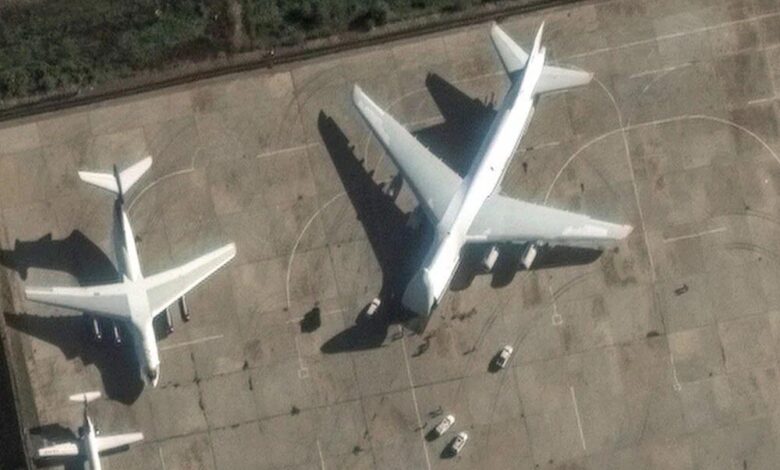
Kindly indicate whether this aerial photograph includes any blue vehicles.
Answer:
No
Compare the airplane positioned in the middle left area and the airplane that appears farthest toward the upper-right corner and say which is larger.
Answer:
the airplane that appears farthest toward the upper-right corner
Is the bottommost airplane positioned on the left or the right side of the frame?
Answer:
left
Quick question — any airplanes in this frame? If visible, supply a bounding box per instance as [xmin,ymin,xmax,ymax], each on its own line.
[353,19,634,336]
[23,156,235,388]
[38,392,143,470]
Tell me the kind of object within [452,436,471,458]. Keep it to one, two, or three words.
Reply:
vehicle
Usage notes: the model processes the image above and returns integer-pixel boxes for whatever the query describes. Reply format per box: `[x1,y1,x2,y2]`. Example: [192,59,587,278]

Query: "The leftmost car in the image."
[309,309,321,329]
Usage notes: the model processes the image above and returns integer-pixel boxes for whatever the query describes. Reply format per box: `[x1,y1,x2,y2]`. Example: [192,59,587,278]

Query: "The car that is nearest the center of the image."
[367,300,380,319]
